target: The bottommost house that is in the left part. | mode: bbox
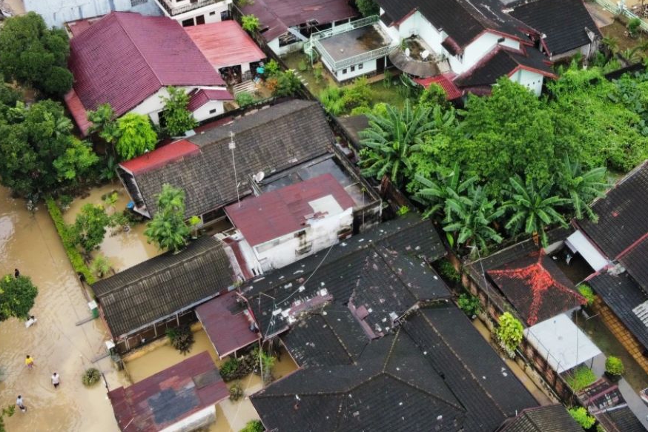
[109,353,229,432]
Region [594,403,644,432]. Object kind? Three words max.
shed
